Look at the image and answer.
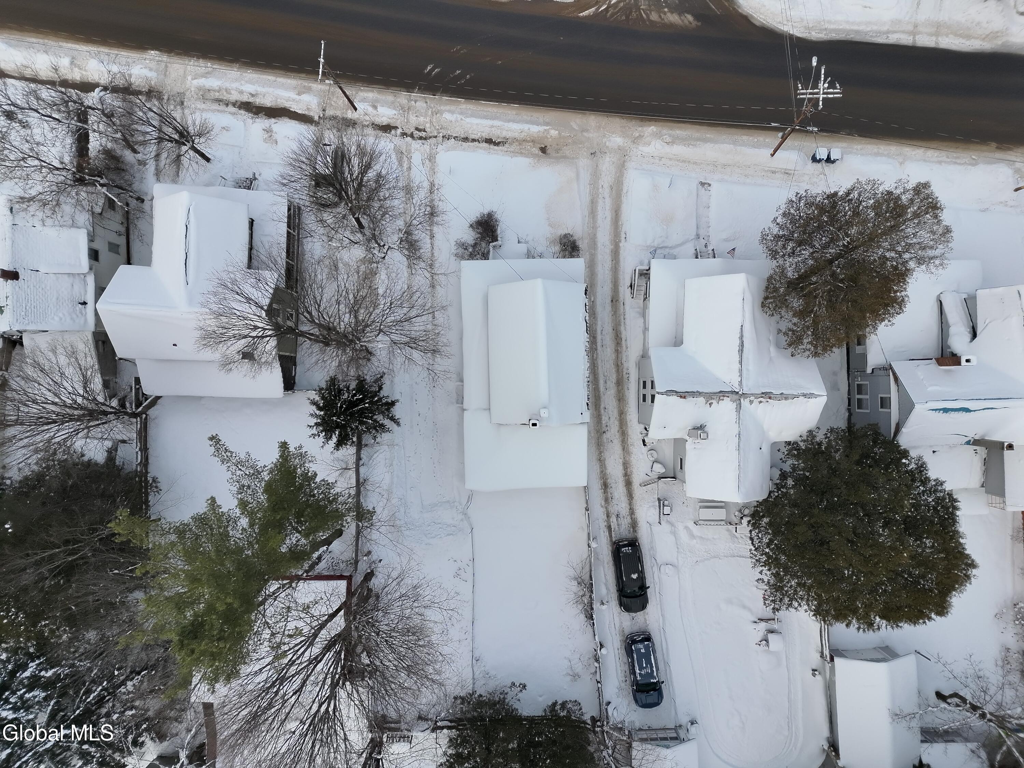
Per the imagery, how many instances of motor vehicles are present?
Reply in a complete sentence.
I count 2 motor vehicles.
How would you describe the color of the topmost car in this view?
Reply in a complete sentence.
From above, the topmost car appears black.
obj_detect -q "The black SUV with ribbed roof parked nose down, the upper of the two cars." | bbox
[614,537,656,614]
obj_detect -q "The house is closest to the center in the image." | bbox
[461,258,591,490]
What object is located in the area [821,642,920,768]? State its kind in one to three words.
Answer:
building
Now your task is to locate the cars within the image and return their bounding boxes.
[624,630,665,707]
[614,537,656,614]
